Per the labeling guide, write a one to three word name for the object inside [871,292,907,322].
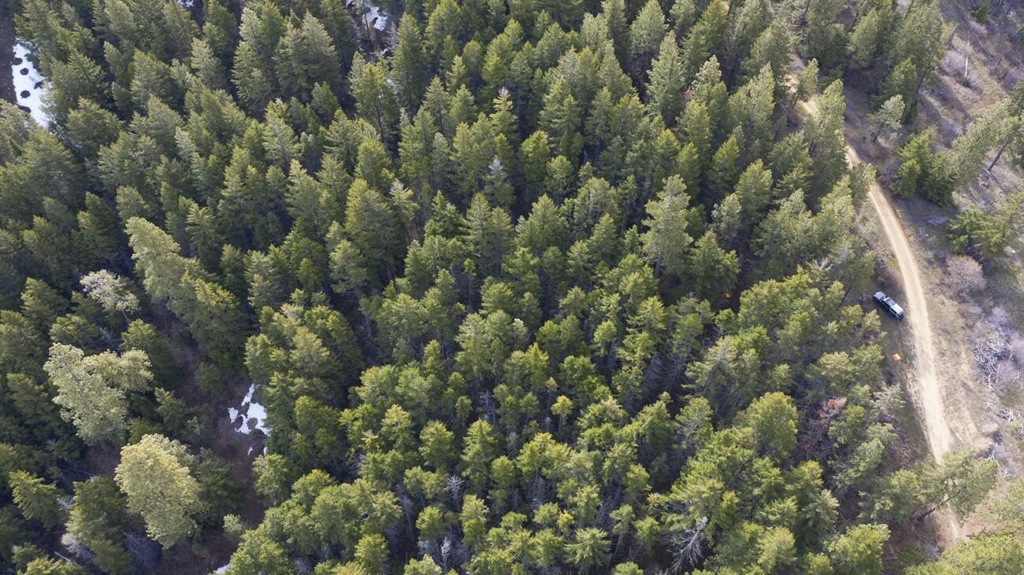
truck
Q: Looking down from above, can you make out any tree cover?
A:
Yes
